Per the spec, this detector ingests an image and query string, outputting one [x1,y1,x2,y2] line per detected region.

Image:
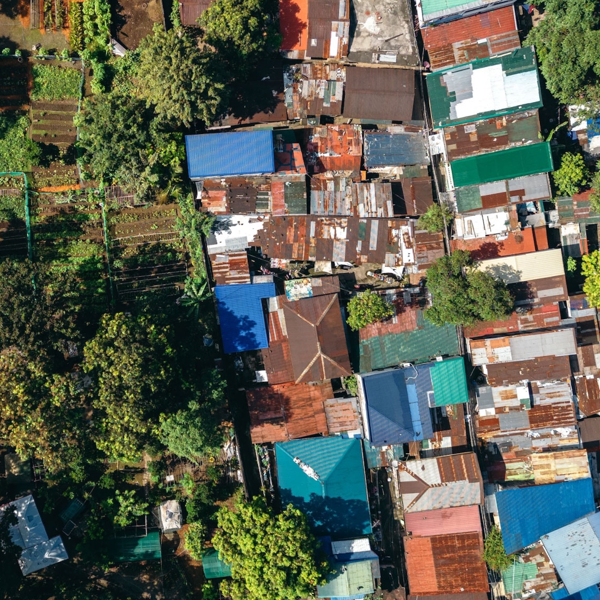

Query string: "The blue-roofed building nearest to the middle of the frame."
[215,283,275,353]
